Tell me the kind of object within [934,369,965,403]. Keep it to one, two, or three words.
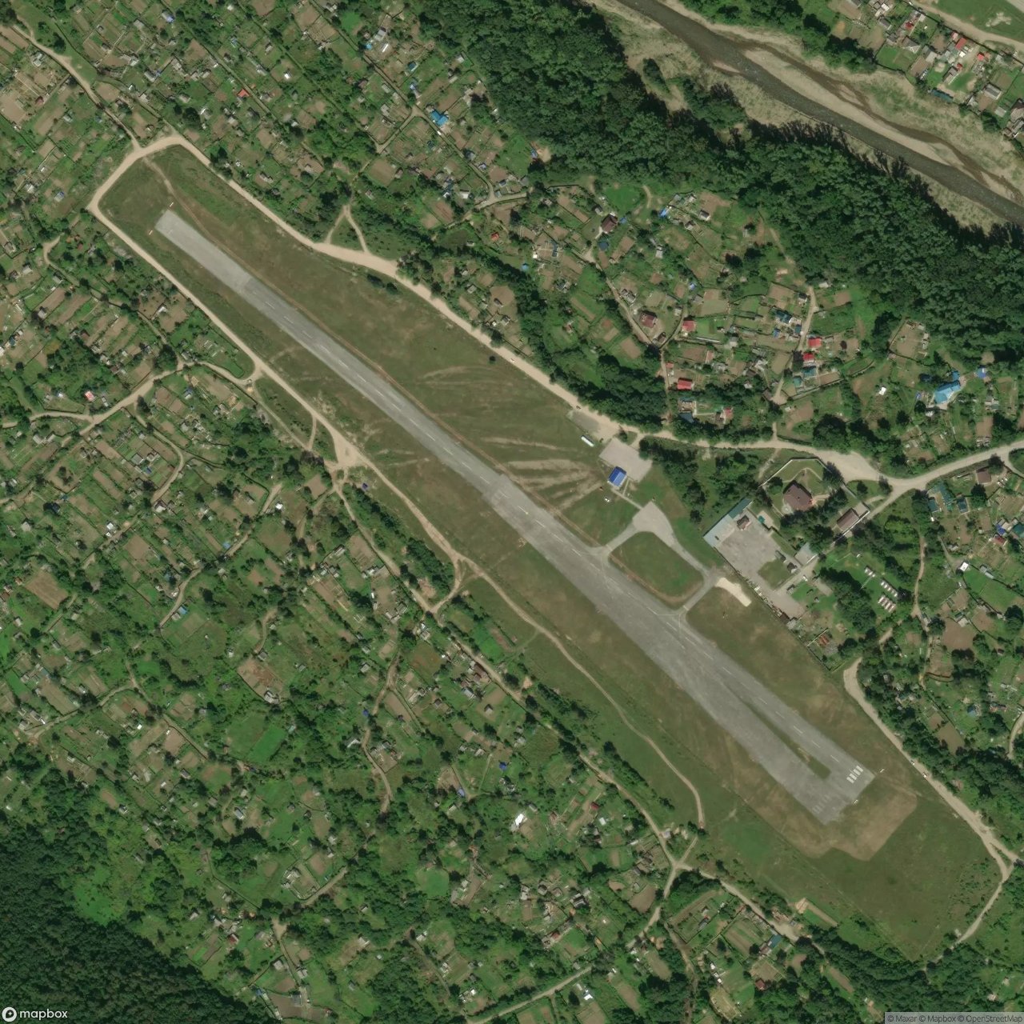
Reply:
house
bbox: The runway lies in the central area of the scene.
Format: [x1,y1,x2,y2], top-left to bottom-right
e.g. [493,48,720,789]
[155,210,874,825]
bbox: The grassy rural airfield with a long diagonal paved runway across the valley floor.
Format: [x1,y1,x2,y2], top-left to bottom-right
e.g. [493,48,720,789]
[98,145,999,960]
